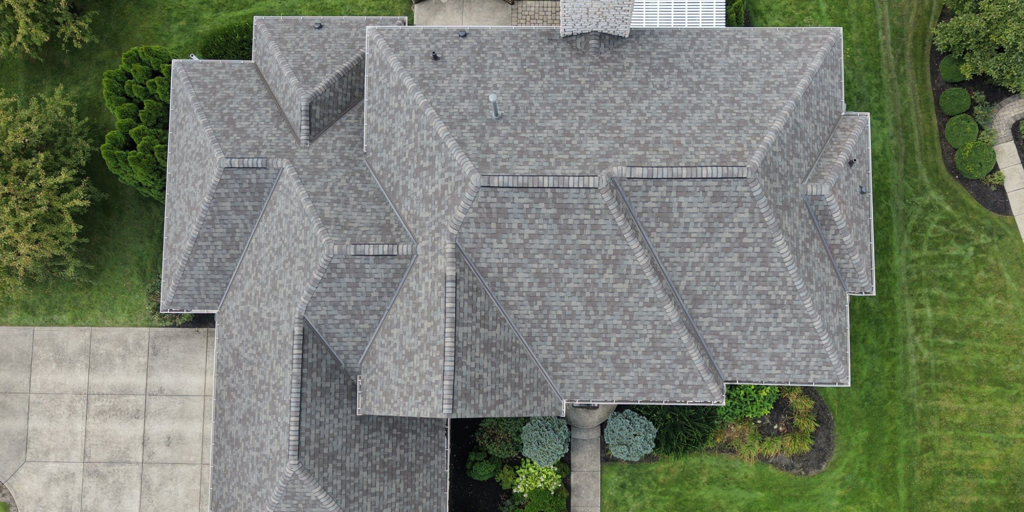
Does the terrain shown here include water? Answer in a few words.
No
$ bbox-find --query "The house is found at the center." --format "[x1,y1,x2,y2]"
[161,0,875,512]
